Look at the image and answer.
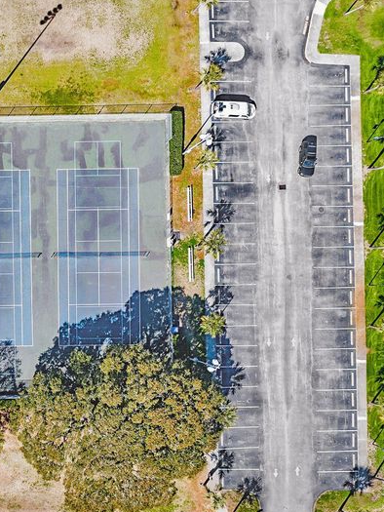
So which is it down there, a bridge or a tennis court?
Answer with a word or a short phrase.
tennis court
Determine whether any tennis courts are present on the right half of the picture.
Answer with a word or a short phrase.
No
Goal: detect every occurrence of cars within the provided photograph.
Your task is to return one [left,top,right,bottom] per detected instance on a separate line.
[296,141,316,178]
[213,100,254,119]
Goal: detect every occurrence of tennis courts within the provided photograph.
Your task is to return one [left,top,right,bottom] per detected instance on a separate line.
[0,169,33,346]
[56,141,141,374]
